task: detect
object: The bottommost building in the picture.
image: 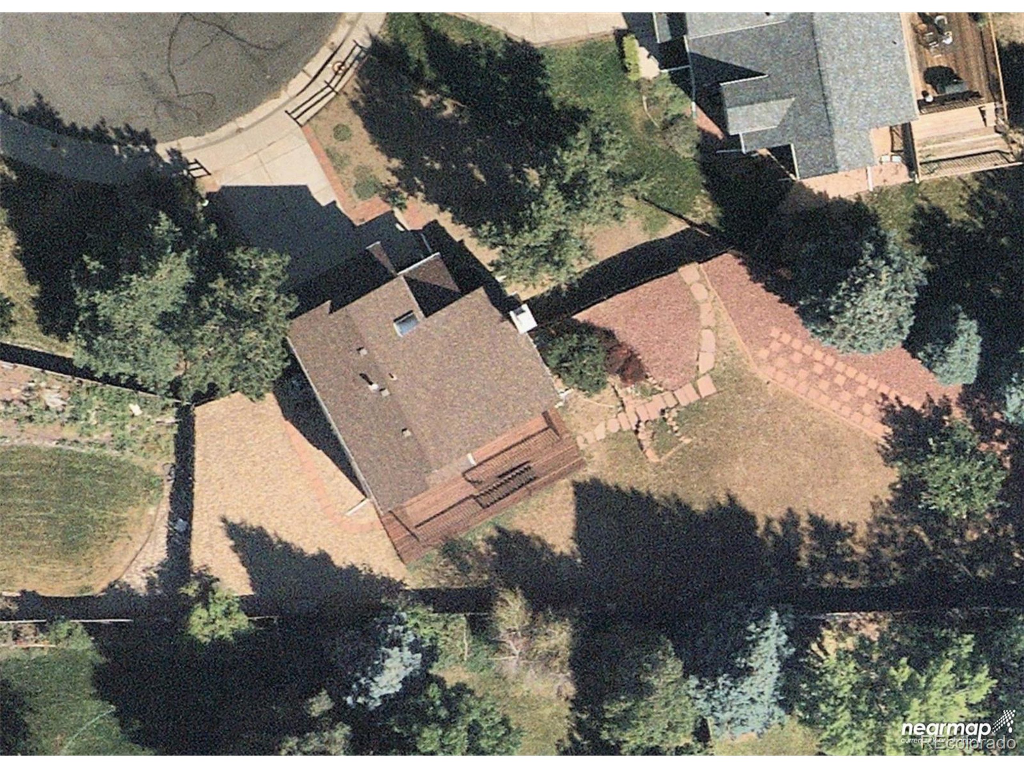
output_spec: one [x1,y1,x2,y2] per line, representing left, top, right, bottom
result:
[271,240,572,515]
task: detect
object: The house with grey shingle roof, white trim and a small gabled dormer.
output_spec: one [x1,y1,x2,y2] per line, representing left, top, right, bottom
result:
[676,0,920,192]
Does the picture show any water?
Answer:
No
